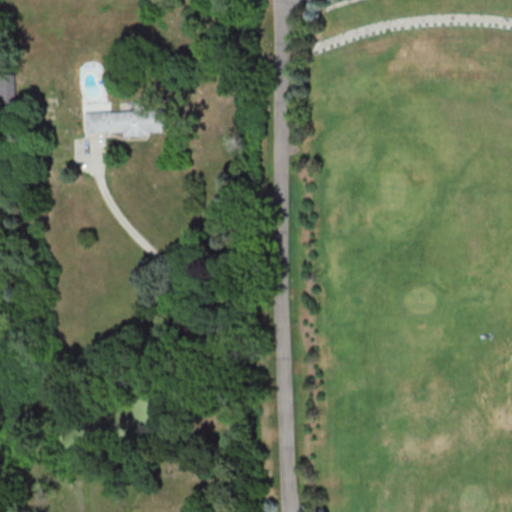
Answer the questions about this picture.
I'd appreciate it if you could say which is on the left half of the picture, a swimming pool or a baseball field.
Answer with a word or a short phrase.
swimming pool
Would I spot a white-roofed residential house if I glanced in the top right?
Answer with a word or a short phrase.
No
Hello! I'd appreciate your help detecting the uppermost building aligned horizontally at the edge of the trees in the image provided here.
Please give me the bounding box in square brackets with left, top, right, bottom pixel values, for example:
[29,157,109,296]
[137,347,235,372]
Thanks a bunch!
[86,112,162,142]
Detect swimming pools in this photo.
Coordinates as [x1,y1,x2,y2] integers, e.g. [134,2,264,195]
[80,61,112,135]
